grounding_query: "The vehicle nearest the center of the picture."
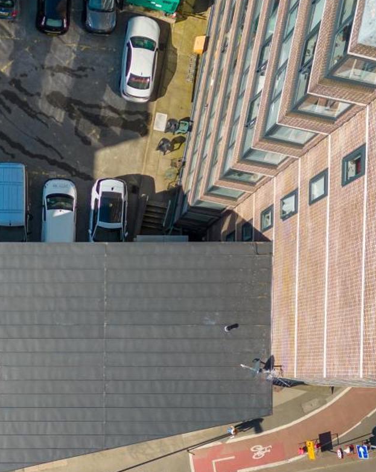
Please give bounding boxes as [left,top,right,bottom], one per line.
[88,177,132,241]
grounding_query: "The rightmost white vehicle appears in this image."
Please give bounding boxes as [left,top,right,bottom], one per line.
[119,16,163,107]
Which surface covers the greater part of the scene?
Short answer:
buildings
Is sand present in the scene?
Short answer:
No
